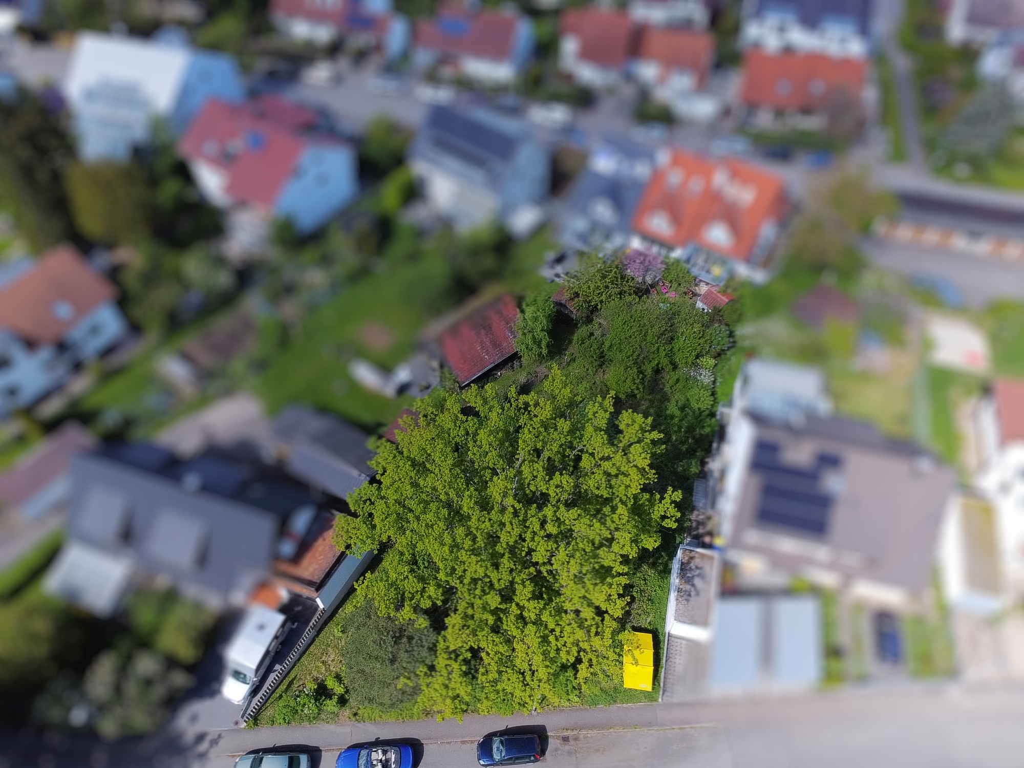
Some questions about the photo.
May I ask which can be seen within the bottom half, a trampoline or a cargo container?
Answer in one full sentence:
You can see a cargo container within the bottom half.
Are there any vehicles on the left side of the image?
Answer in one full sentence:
Yes, on the left side of the image there is a vehicle.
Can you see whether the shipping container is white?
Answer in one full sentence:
No, the shipping container is actually yellow.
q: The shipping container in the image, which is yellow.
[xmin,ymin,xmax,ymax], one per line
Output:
[621,634,659,691]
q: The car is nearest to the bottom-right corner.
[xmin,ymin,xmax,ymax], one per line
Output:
[872,614,909,675]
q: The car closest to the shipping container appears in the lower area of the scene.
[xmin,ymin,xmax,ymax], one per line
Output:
[475,733,543,768]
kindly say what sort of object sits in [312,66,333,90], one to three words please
car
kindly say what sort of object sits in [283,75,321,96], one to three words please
car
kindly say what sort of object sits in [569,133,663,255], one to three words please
house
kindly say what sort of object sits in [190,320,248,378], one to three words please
shed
